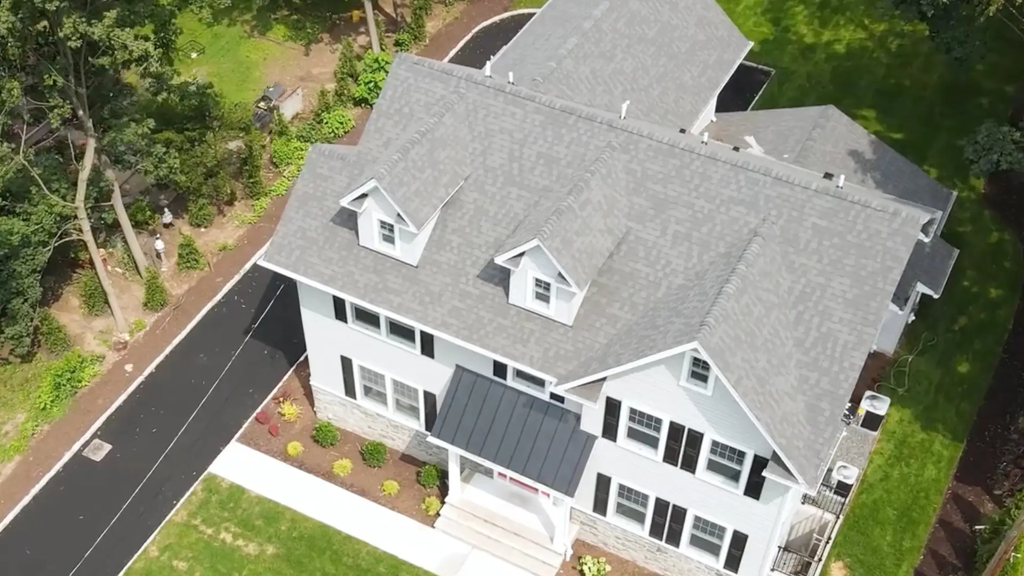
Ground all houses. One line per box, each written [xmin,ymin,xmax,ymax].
[258,0,958,576]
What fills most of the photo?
buildings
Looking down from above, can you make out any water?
No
